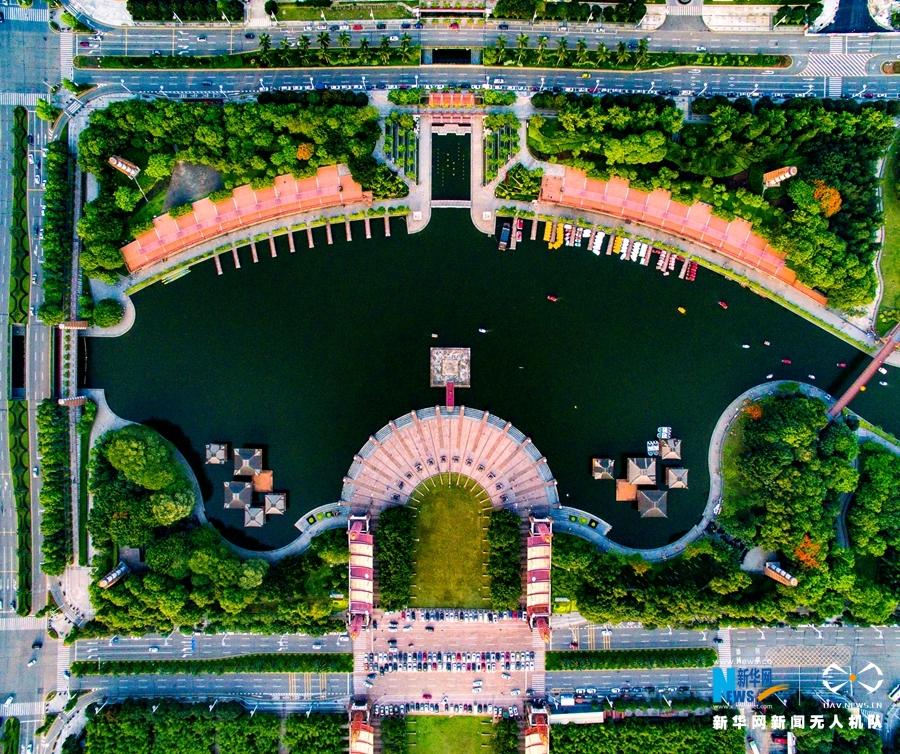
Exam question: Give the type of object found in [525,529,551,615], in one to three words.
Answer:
building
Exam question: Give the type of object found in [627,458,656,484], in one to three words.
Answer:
building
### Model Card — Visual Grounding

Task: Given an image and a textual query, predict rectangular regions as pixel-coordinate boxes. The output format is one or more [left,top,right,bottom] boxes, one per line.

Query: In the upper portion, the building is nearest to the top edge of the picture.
[430,93,475,108]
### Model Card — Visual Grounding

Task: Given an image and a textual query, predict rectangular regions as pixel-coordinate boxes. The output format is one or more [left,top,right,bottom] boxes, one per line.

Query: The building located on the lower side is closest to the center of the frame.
[592,458,614,479]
